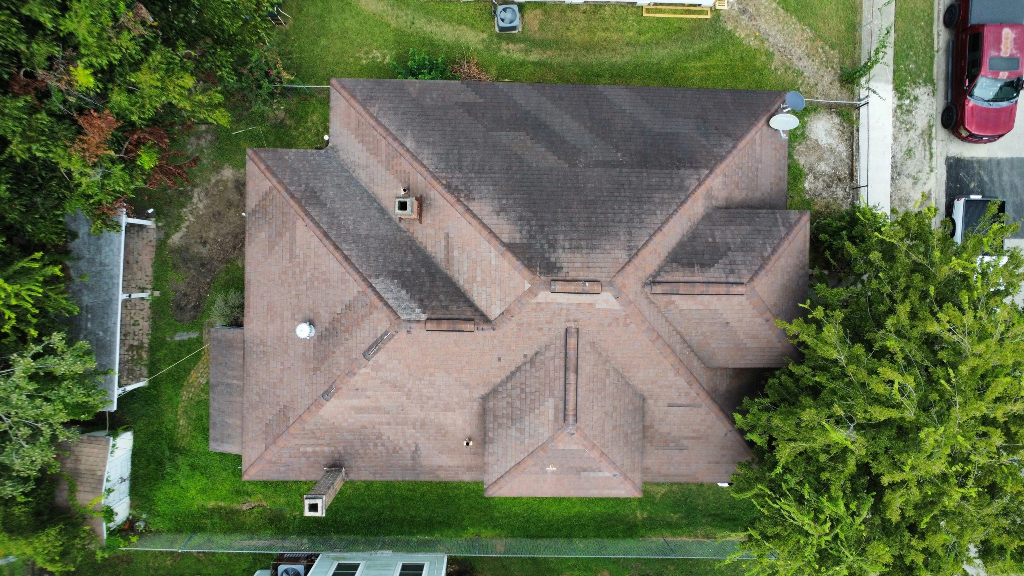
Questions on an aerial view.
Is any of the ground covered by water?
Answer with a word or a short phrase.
No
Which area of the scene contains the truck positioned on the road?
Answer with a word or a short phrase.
top right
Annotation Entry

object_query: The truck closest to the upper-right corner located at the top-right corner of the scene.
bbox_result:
[941,0,1024,145]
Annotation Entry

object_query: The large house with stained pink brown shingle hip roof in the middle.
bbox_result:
[209,78,811,516]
